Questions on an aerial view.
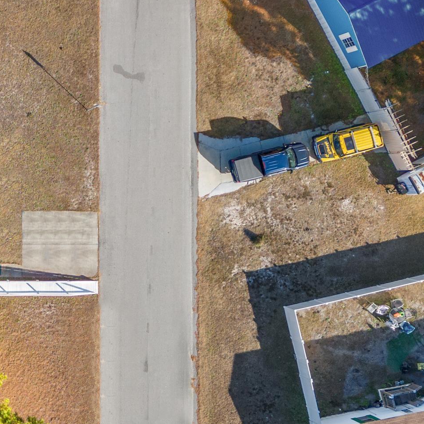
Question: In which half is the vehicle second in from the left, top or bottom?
top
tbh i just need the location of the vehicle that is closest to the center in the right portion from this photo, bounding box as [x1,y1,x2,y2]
[224,143,305,182]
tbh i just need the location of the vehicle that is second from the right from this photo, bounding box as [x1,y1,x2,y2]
[310,123,382,162]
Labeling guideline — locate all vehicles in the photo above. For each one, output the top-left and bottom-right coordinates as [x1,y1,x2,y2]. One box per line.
[397,164,424,198]
[224,143,305,182]
[310,123,382,162]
